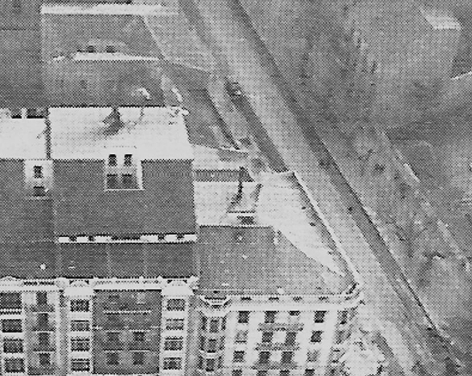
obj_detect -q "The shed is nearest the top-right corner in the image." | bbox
[354,2,459,102]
